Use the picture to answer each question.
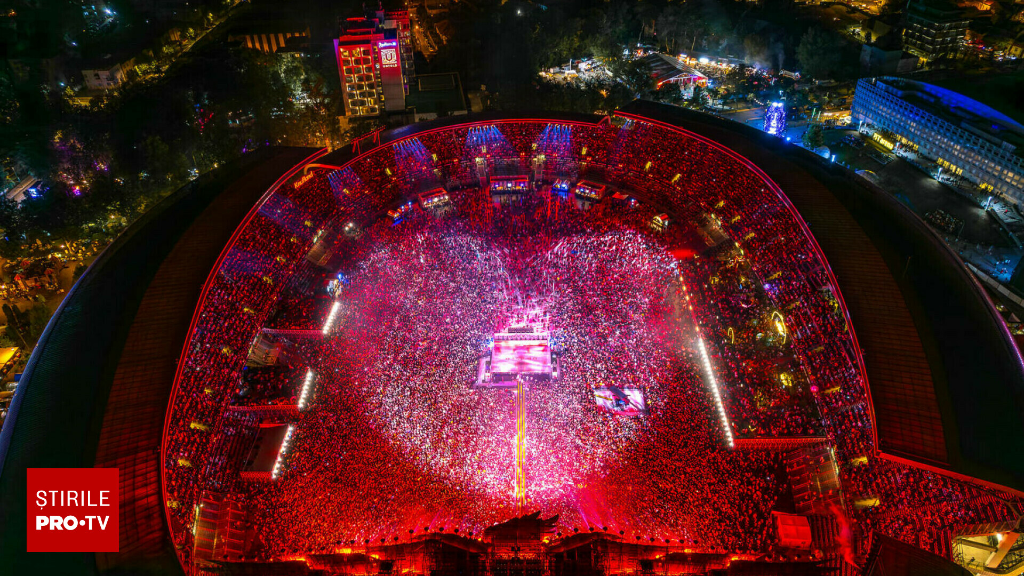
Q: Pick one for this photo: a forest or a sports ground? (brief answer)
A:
sports ground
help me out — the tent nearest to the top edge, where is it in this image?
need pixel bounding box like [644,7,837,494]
[605,50,710,91]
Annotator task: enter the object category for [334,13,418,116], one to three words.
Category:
building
